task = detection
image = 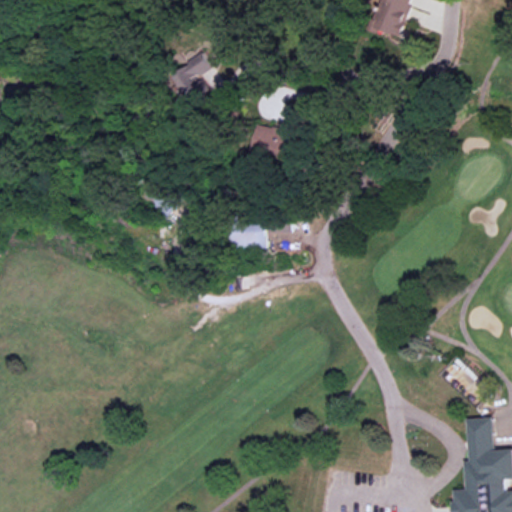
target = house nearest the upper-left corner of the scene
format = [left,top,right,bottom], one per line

[172,54,211,96]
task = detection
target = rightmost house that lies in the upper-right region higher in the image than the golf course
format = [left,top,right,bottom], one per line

[362,0,408,40]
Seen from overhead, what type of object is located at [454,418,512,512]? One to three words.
building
